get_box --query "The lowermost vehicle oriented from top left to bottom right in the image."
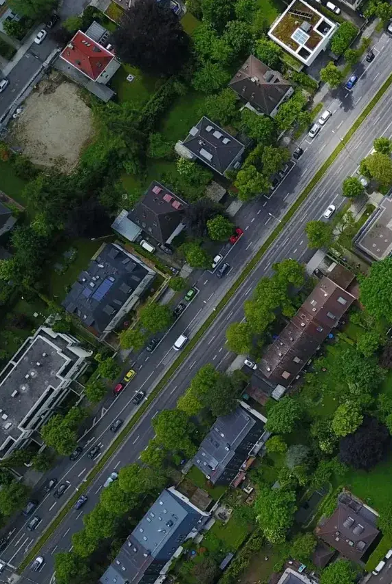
[242,357,258,370]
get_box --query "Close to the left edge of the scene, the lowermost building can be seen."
[0,325,101,468]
